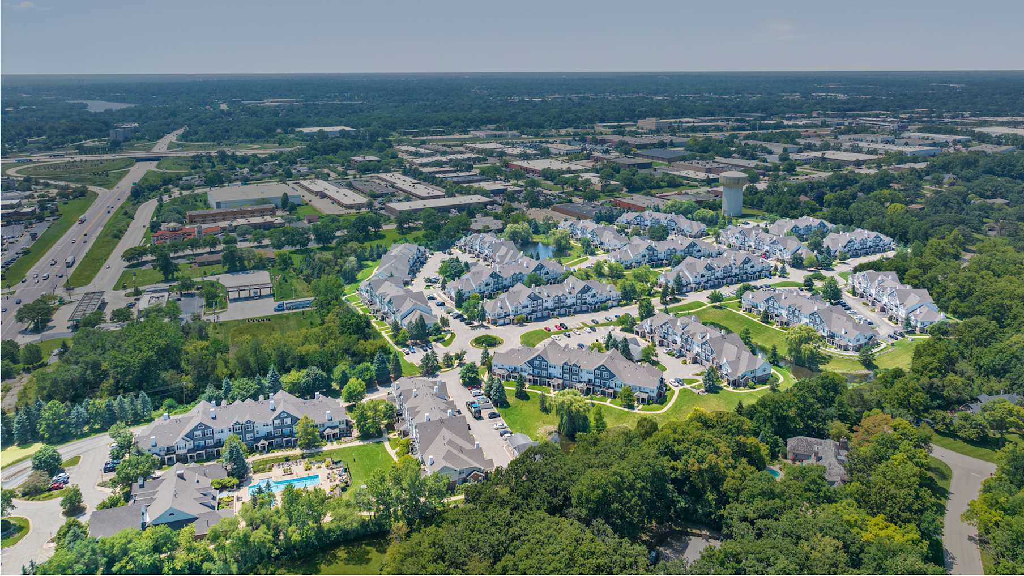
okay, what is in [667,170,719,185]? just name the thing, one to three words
building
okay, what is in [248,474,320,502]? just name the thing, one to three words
swimming pool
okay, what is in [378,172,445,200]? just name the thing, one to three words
building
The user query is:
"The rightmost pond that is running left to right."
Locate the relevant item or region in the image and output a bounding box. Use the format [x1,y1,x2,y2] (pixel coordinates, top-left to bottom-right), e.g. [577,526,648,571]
[753,350,881,390]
